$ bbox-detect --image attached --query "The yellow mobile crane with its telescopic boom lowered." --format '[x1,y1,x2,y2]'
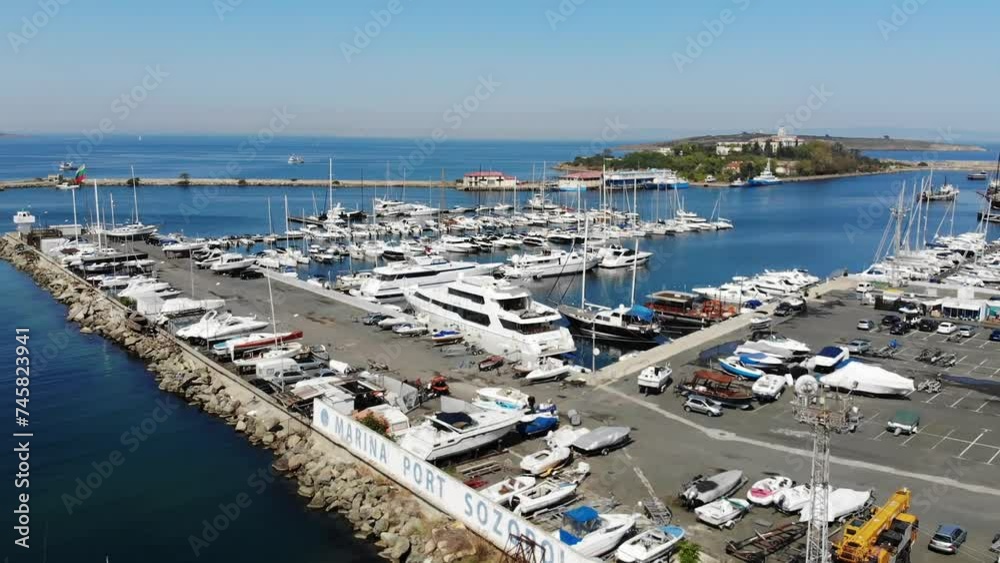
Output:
[832,483,914,563]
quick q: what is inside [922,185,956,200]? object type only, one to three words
boat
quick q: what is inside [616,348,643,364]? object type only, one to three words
boat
